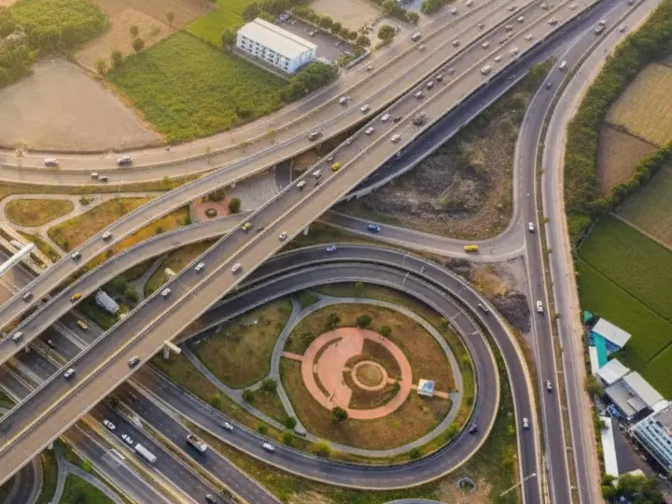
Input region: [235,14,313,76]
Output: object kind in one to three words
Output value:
building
